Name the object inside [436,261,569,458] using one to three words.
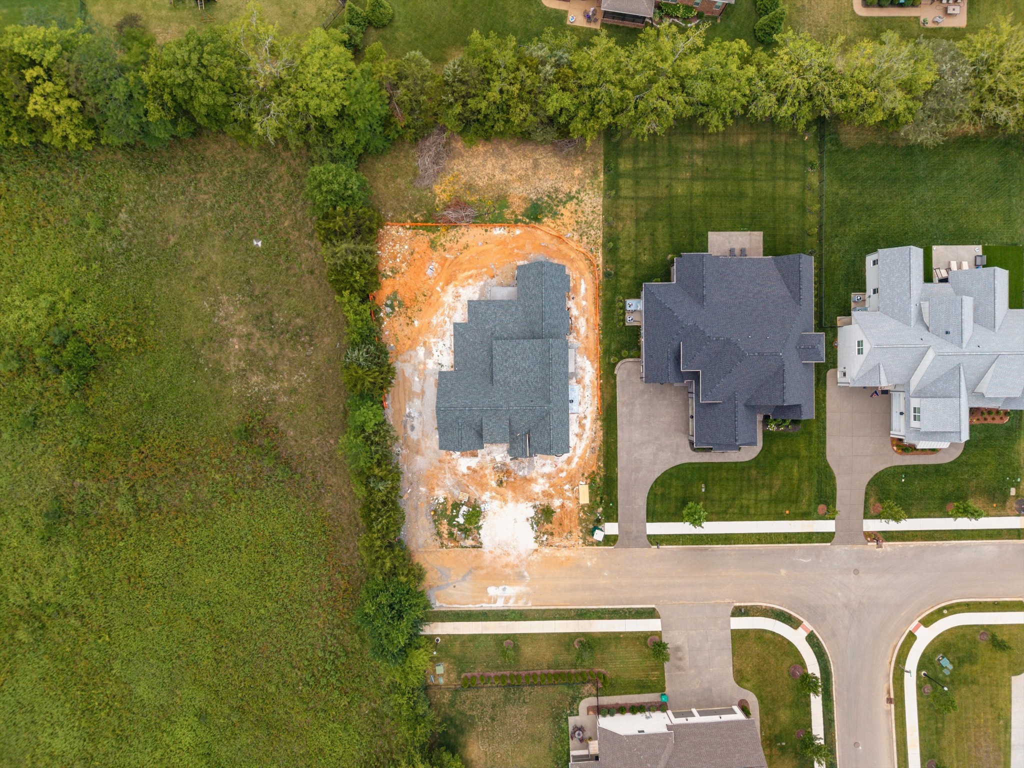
house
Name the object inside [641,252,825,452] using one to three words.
house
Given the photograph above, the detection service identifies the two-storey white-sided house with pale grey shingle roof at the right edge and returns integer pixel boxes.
[838,246,1024,448]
